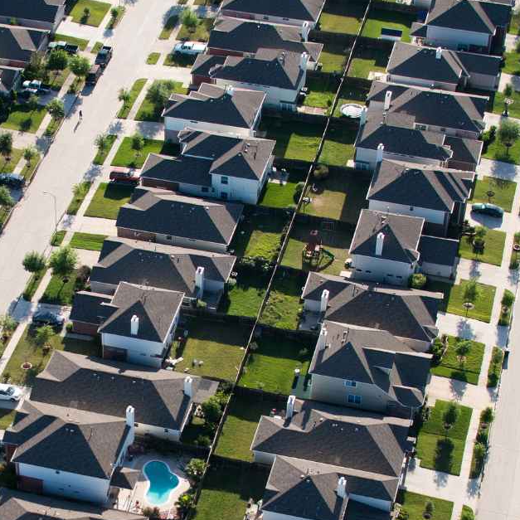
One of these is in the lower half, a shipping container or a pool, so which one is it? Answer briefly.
pool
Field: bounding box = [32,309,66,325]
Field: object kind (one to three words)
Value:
car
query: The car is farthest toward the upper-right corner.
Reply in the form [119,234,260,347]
[469,199,500,213]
